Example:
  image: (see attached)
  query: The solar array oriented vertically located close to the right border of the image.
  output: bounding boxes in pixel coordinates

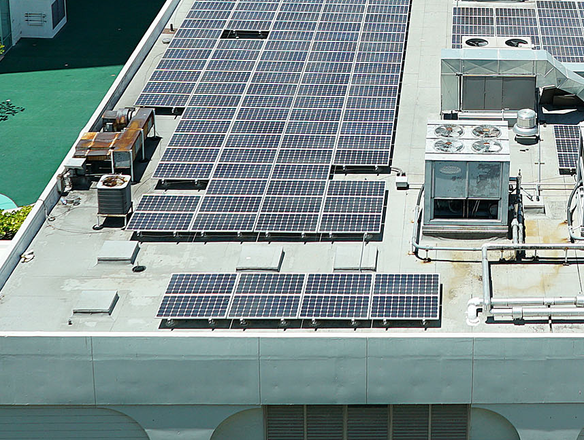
[554,126,582,181]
